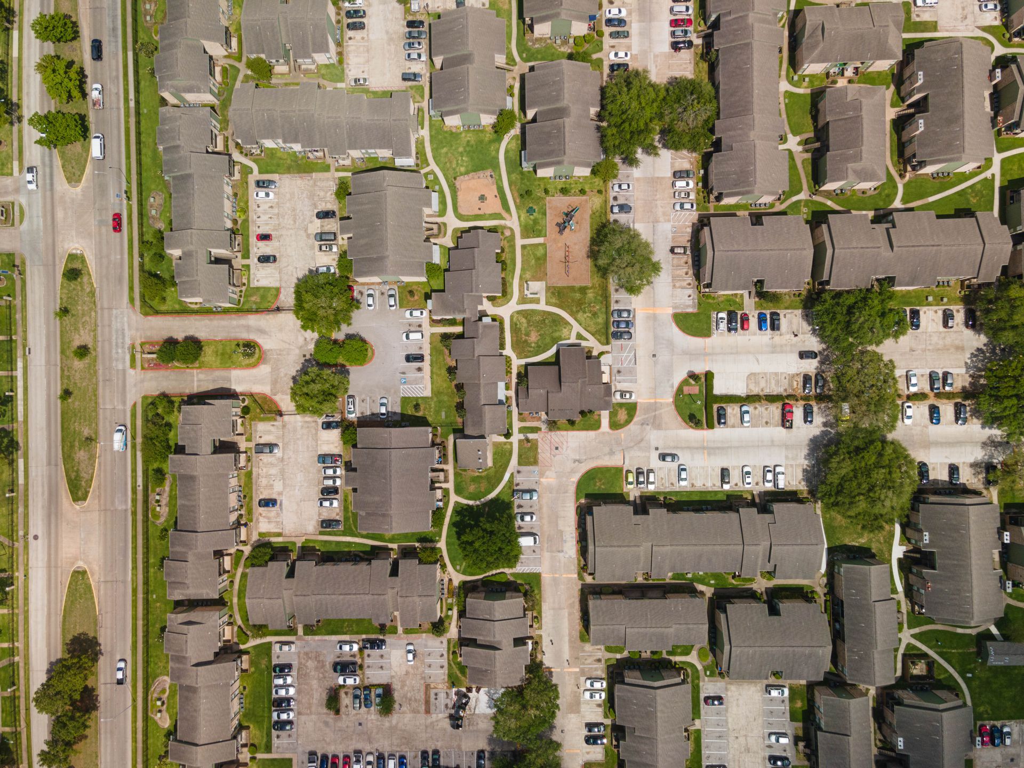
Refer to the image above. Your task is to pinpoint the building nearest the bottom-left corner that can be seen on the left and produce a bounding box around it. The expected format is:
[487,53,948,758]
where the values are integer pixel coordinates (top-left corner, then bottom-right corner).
[164,606,249,768]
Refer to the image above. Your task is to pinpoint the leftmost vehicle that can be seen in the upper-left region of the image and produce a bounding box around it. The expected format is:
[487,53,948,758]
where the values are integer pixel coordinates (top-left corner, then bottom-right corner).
[24,165,37,190]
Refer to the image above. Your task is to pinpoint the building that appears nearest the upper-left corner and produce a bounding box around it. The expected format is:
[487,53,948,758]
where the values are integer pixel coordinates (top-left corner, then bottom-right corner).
[155,0,238,102]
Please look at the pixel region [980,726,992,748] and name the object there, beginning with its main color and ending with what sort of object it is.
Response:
red vehicle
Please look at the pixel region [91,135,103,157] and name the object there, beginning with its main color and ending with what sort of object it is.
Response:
white vehicle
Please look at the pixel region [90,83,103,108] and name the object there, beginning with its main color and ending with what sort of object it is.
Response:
white vehicle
